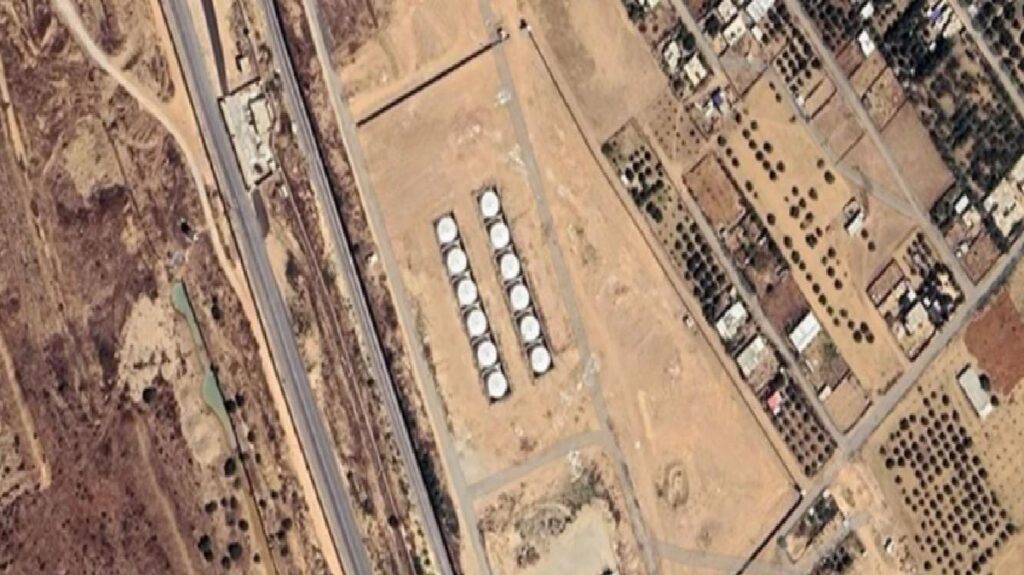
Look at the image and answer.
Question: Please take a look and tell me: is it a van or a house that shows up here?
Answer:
house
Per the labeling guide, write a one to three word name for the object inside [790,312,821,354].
building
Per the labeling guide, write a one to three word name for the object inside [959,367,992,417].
barn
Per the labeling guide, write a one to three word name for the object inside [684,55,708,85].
house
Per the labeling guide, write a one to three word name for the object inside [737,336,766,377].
house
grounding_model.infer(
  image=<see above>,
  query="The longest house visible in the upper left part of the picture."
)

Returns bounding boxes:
[250,97,271,133]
